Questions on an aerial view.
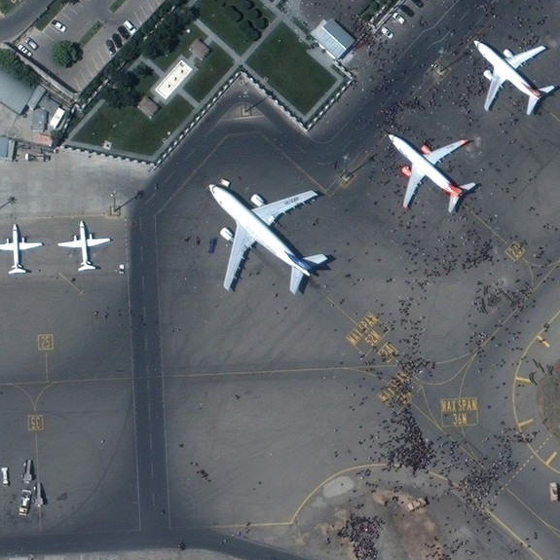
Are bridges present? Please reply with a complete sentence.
No, the scene contains no bridge.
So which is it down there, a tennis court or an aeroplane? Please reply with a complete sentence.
There is an aeroplane in the scene.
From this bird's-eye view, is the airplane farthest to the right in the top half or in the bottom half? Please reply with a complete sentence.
It is in the top half that the airplane farthest to the right appears.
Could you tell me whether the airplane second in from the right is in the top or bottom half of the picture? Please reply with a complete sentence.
You can find the airplane second in from the right in the top half.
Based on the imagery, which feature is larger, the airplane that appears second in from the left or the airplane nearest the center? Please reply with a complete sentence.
The larger object is the airplane nearest the center, with the airplane that appears second in from the left being the smaller of the pair.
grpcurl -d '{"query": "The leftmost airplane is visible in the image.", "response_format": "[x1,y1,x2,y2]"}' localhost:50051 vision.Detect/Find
[0,225,42,272]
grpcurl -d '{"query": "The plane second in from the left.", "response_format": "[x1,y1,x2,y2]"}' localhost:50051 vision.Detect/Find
[58,222,110,269]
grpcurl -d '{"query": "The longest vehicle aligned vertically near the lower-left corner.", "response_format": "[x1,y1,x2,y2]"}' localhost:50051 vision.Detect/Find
[18,489,30,517]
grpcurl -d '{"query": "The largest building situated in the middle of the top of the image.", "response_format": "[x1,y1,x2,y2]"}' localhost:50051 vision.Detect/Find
[313,19,356,61]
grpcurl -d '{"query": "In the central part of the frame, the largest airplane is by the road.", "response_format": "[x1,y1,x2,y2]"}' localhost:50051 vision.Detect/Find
[209,185,325,291]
